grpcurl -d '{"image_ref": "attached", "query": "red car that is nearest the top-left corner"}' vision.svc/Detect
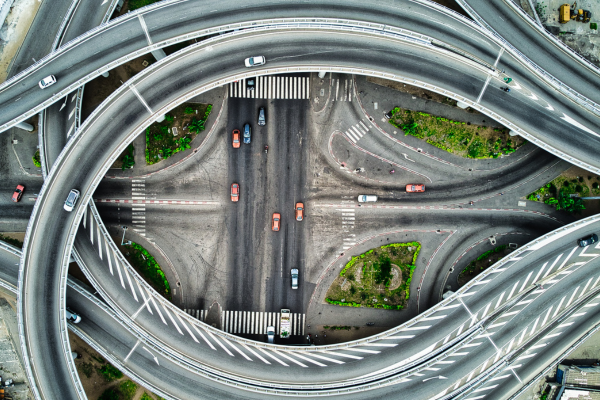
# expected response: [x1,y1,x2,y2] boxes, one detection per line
[9,183,24,203]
